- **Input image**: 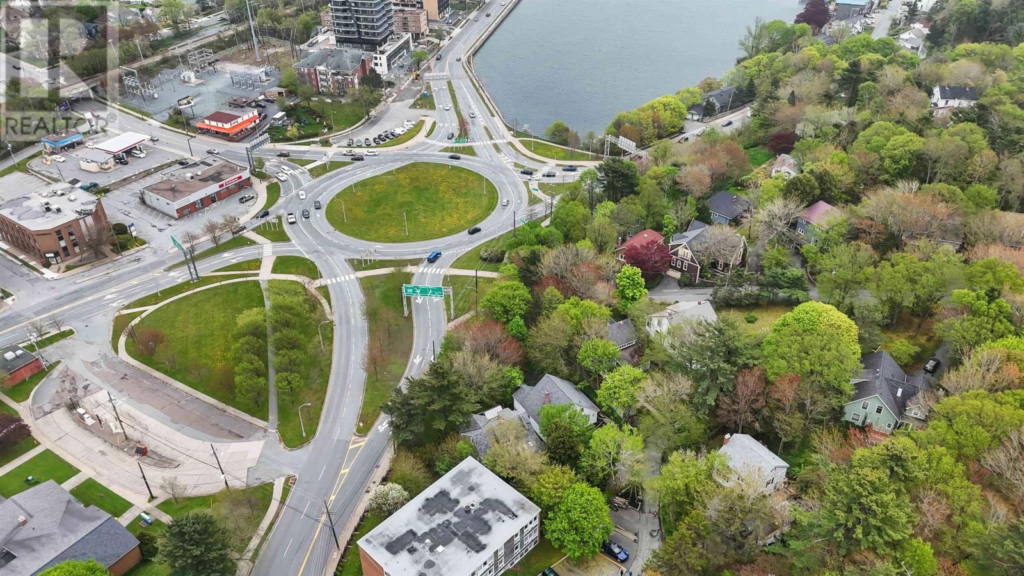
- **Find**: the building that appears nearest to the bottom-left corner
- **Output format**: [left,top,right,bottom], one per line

[0,478,147,576]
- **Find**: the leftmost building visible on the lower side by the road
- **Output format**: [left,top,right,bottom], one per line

[0,345,42,387]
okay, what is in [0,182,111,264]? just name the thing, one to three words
building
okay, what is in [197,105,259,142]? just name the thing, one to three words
building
